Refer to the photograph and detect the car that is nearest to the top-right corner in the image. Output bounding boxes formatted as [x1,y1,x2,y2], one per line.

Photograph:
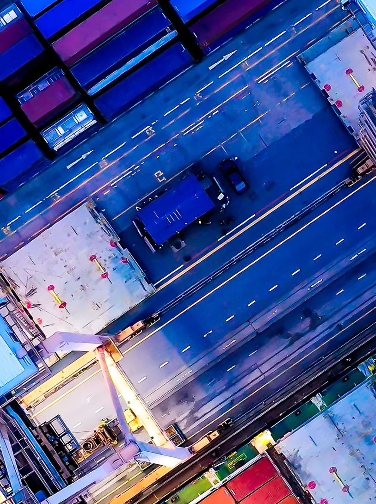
[218,157,252,194]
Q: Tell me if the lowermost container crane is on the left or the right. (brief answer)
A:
left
